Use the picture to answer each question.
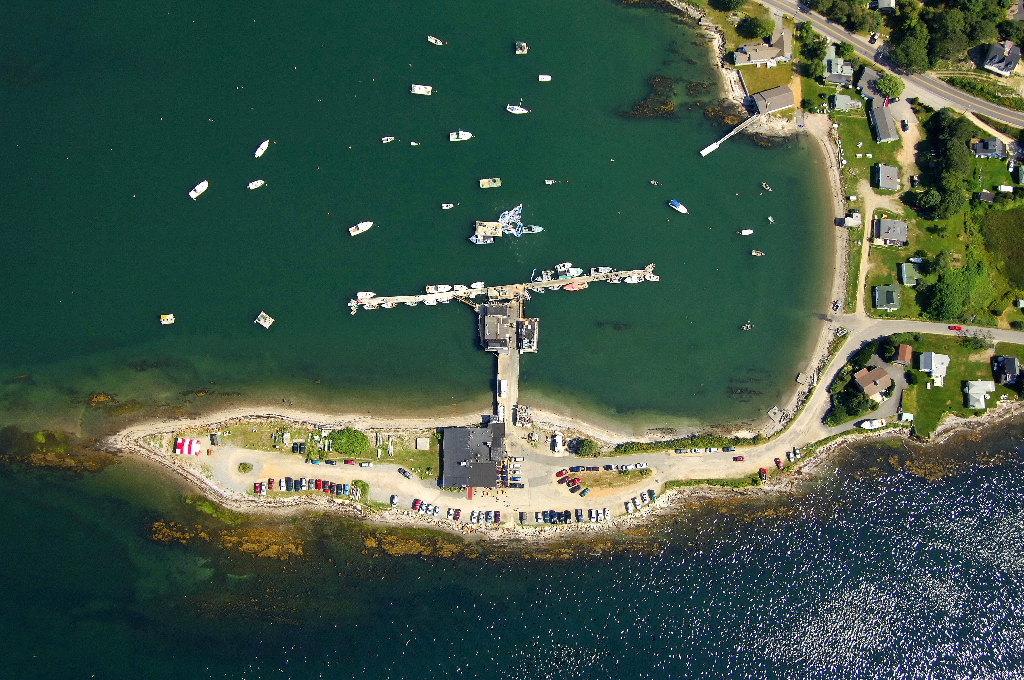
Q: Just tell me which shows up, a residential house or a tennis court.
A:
residential house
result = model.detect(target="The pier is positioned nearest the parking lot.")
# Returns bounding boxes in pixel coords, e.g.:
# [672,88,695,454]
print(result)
[497,354,520,436]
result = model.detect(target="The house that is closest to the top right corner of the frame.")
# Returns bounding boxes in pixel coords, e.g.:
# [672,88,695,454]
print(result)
[983,41,1019,77]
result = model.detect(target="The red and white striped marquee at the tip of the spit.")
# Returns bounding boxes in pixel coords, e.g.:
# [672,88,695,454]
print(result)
[176,438,202,456]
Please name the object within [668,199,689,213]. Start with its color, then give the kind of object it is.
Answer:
white boat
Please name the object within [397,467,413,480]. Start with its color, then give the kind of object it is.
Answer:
gray vehicle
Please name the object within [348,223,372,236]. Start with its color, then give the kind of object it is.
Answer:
white boat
